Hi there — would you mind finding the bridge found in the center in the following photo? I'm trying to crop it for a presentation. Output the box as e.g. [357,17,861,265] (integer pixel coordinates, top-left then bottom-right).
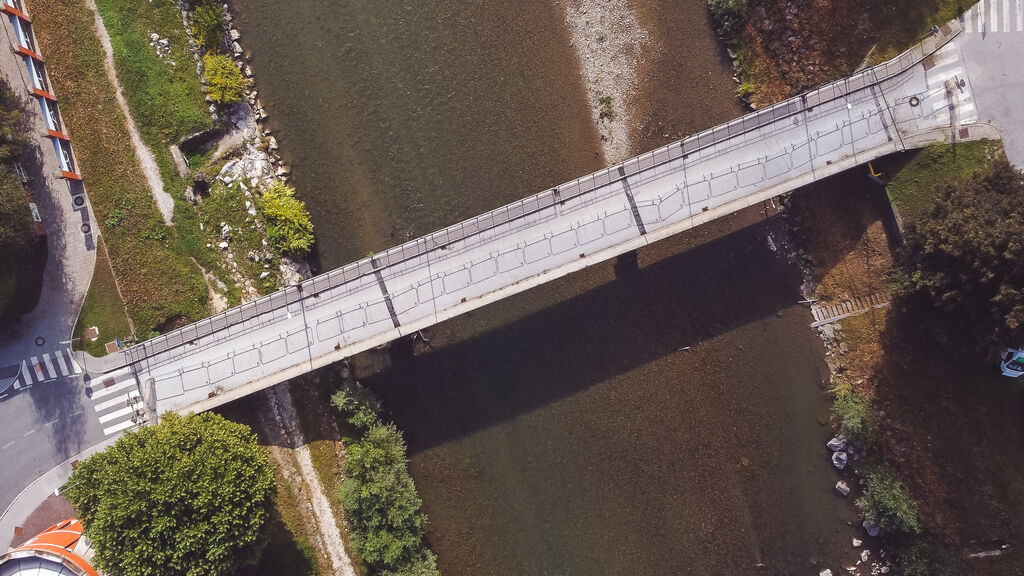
[110,63,908,431]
